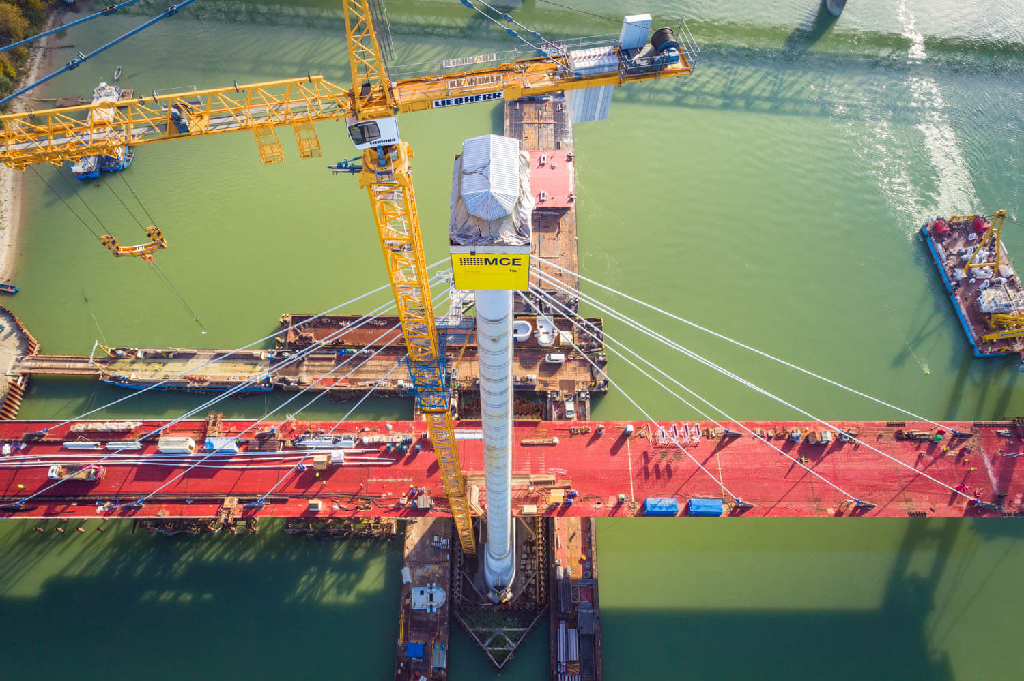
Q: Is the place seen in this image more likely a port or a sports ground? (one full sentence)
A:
The picture captures a port.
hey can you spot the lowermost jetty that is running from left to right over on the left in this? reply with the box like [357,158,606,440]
[15,351,112,382]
